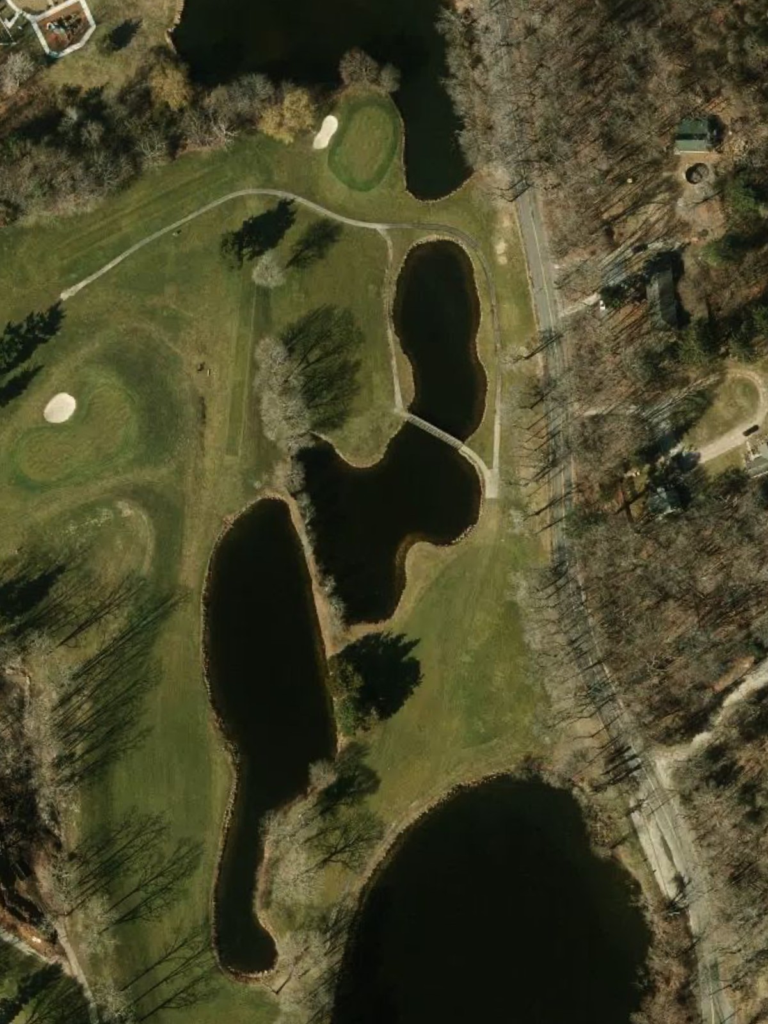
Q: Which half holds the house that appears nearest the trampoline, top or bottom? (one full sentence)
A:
Seen from above, the house that appears nearest the trampoline lies in the top half of the view.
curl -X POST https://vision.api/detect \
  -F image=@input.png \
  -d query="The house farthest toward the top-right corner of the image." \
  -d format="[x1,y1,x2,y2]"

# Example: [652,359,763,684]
[674,118,717,156]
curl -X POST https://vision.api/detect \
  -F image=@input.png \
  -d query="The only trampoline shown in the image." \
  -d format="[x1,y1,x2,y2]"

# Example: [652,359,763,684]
[685,166,704,184]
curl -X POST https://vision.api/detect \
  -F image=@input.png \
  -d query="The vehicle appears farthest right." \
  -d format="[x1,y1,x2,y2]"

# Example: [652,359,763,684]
[741,424,759,437]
